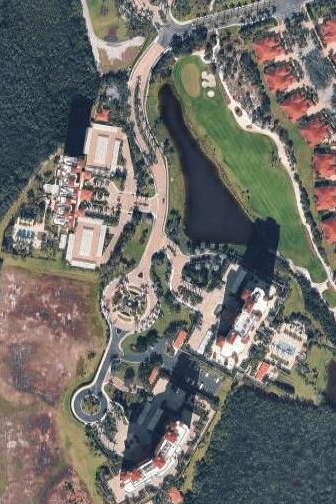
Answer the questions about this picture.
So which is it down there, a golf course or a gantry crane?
golf course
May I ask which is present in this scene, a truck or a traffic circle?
traffic circle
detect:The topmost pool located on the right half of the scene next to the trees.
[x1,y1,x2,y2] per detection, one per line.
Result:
[267,323,306,367]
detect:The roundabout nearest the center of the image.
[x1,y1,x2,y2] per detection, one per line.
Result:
[102,273,157,330]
